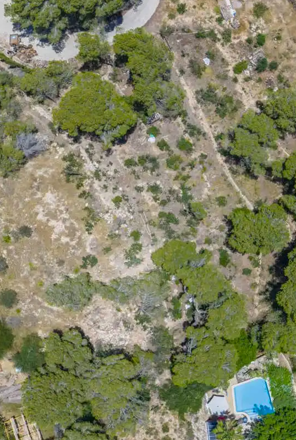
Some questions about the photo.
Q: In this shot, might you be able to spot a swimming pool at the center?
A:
No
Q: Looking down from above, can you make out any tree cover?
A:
Yes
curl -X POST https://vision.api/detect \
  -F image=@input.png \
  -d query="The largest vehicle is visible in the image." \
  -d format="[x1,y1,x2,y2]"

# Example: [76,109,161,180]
[3,32,20,52]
